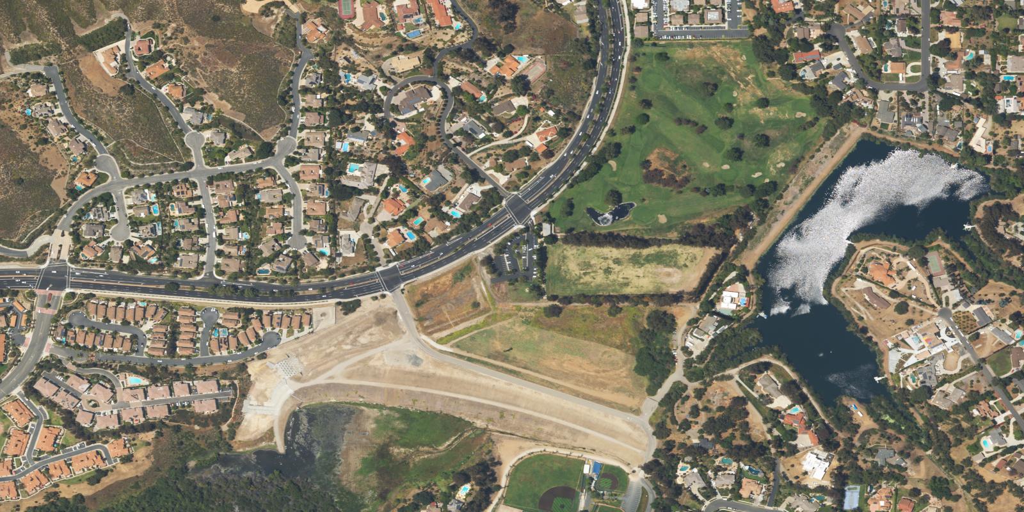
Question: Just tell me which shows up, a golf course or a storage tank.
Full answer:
The one in the frame is a golf course.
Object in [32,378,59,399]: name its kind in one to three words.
house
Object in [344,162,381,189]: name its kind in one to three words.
house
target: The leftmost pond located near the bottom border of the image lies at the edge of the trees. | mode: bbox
[222,405,359,491]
